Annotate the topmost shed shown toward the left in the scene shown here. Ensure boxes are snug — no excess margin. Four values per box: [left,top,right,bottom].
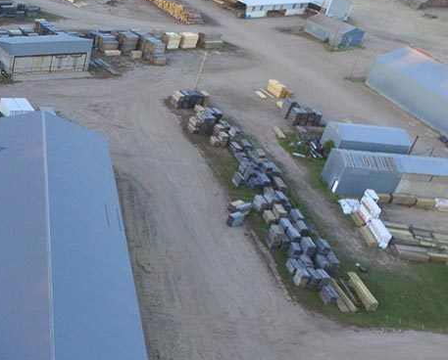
[0,32,93,75]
